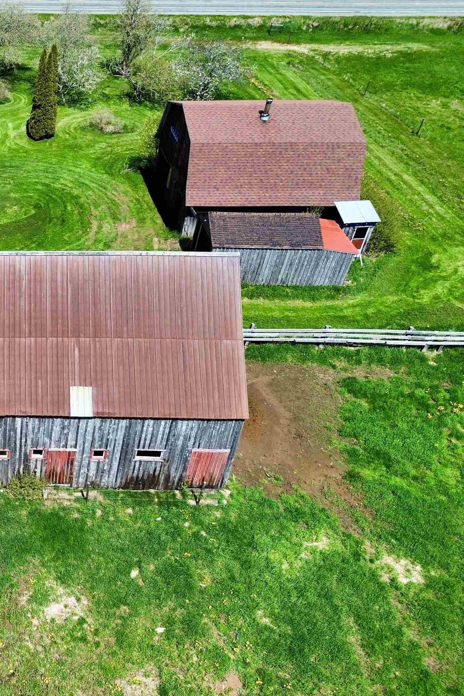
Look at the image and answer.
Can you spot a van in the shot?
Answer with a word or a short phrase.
No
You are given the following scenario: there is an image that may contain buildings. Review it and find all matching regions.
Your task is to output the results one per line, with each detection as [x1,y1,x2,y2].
[0,249,253,492]
[159,89,366,237]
